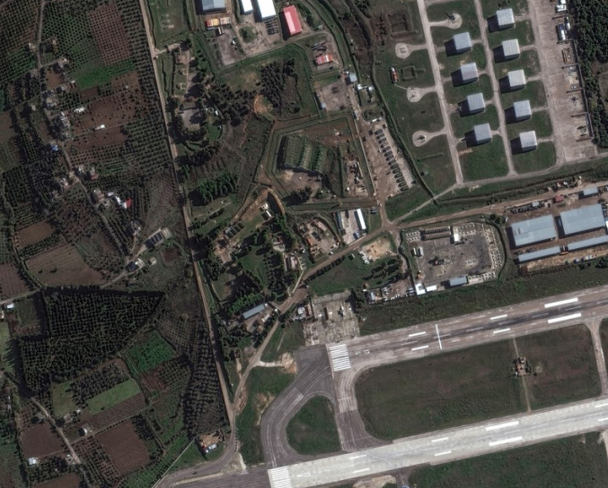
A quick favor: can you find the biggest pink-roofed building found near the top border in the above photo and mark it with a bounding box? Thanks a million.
[283,5,302,38]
